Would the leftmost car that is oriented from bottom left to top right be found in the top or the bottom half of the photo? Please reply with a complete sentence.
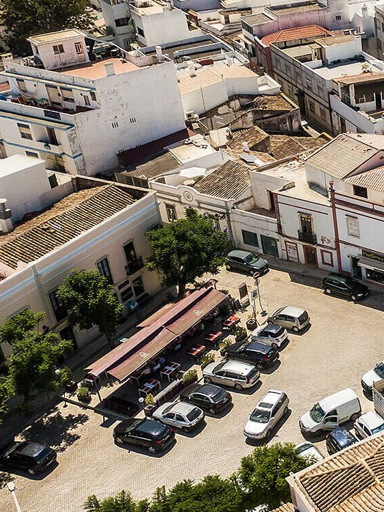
The bottom half of the photo is where the leftmost car that is oriented from bottom left to top right is.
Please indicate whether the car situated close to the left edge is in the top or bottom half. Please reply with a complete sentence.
The bottom half of the photo is where the car situated close to the left edge is.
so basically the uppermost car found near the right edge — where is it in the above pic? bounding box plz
[318,270,372,302]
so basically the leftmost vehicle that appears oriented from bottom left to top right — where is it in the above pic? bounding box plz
[238,384,297,436]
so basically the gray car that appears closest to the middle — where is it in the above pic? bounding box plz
[224,247,268,274]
